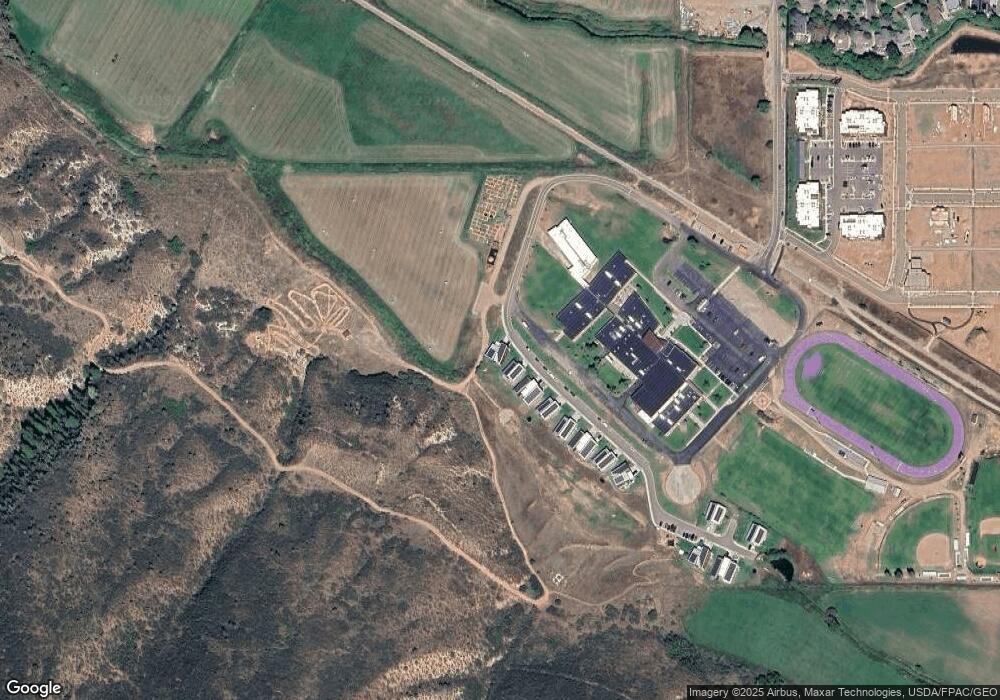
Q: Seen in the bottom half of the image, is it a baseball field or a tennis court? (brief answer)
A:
baseball field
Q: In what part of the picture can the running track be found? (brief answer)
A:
right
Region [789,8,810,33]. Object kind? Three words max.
house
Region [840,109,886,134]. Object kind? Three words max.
building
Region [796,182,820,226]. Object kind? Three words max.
building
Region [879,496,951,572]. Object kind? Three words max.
baseball field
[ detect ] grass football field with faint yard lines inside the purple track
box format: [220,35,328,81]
[796,343,953,465]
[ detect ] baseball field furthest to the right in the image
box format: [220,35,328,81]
[966,451,1000,572]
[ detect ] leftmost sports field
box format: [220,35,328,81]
[719,421,869,556]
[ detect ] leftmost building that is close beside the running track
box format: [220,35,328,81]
[556,250,701,434]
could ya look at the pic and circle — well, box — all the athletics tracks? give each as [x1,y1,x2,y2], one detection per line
[783,330,964,476]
